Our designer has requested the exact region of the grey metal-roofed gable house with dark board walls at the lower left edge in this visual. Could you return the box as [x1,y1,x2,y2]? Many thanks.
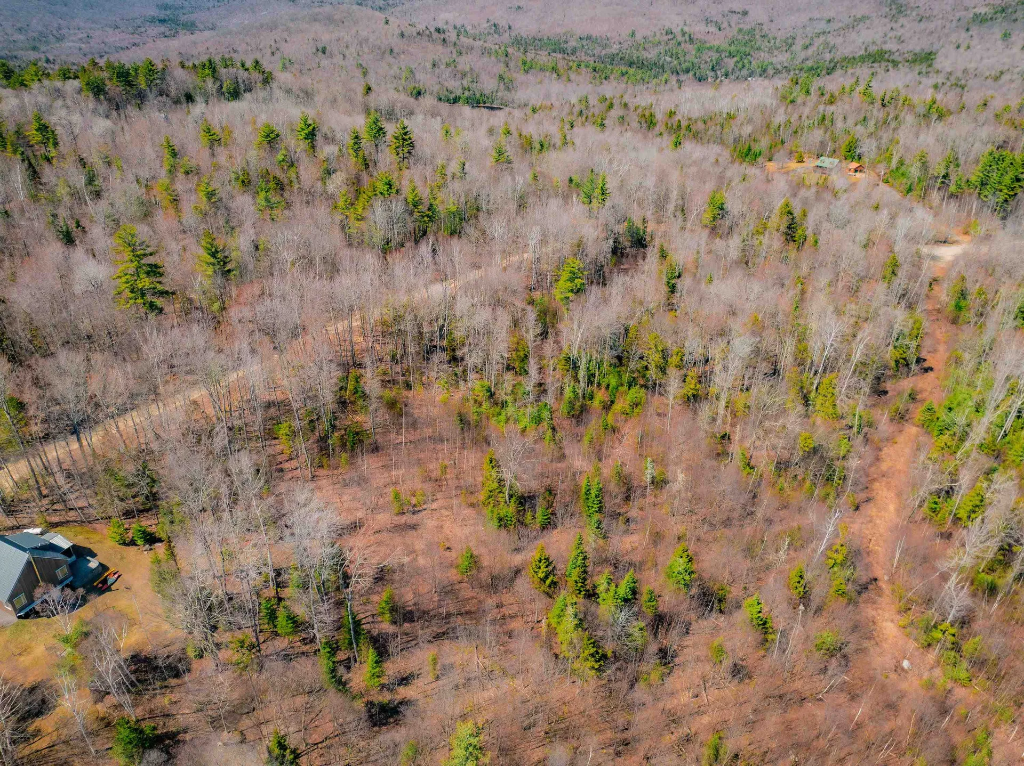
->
[0,525,84,628]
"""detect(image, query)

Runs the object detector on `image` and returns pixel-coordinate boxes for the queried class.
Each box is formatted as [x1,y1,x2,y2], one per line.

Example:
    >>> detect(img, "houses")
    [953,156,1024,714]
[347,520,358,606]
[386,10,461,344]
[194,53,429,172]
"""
[814,157,842,174]
[0,525,84,628]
